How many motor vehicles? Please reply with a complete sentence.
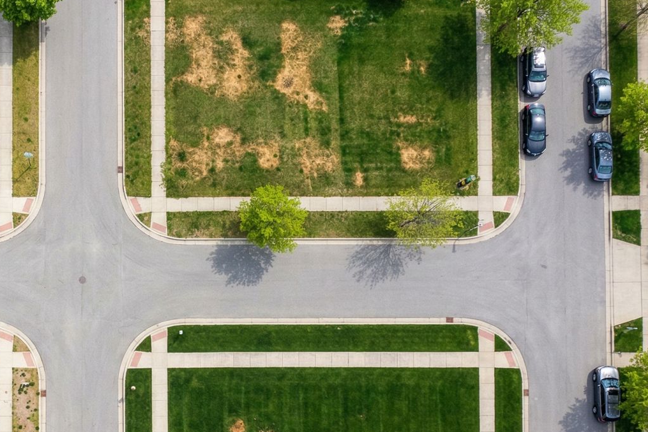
In total, 5 motor vehicles can be seen.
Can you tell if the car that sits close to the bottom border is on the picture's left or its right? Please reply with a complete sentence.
You can find the car that sits close to the bottom border on the right side of the picture.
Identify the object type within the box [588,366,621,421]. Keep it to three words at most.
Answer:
car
